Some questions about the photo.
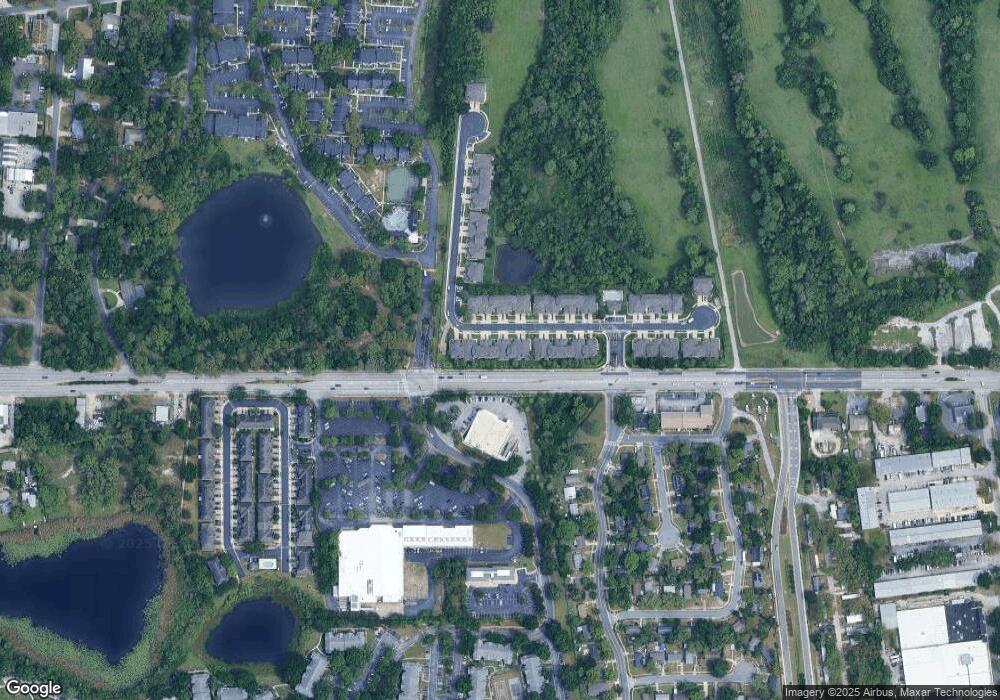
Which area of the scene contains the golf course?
top right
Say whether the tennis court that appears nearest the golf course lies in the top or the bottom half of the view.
top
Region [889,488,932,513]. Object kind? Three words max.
building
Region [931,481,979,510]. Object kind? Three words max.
building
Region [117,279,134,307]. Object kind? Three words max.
house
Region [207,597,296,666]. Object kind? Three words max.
pond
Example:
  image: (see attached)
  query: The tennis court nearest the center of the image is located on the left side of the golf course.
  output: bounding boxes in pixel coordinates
[388,167,407,201]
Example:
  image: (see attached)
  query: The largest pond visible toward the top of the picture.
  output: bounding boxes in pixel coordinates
[494,243,541,284]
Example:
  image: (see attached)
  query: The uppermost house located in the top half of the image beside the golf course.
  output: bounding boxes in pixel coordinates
[466,82,486,104]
